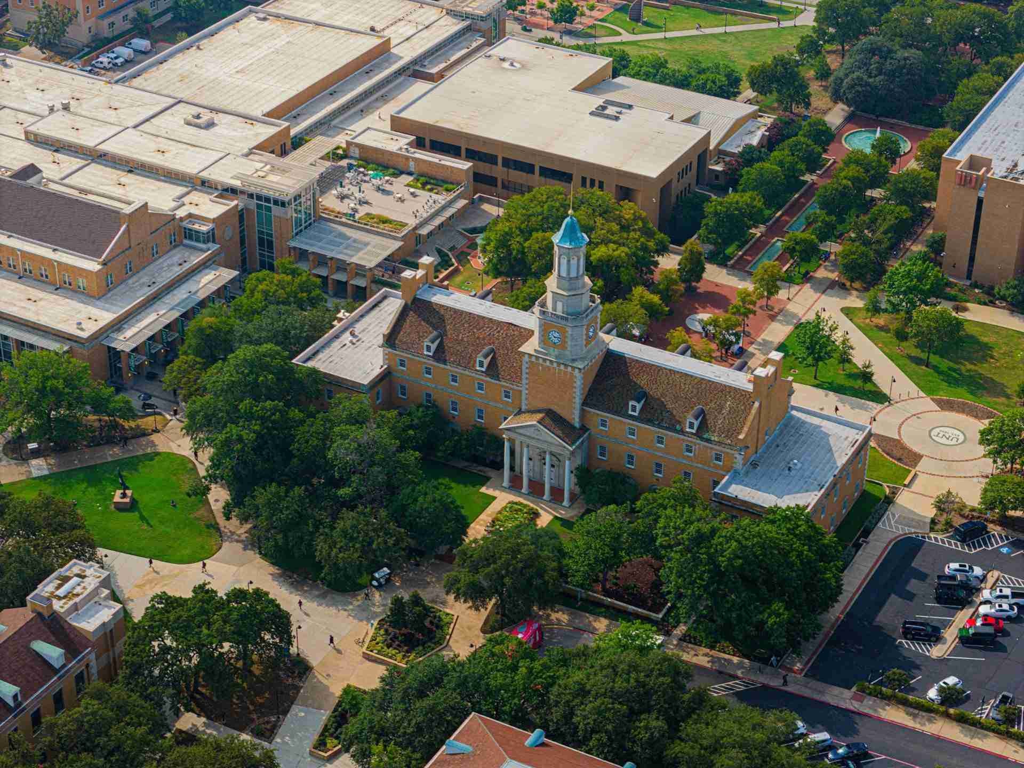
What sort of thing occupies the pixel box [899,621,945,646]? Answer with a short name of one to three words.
car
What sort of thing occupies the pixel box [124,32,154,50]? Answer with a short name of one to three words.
vehicle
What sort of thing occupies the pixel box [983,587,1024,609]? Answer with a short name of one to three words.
truck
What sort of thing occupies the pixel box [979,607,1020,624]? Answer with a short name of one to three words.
car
